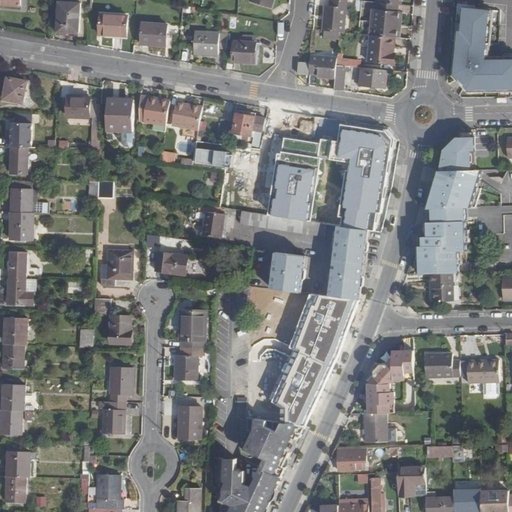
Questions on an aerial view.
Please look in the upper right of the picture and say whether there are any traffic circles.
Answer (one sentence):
Yes, a traffic circle is visible in the upper right of the picture.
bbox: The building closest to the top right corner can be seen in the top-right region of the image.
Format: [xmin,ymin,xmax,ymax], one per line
[450,2,512,103]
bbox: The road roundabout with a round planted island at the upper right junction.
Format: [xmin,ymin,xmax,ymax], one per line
[399,90,448,140]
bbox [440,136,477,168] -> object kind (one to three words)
building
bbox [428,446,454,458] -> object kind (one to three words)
shed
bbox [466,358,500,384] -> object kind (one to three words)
house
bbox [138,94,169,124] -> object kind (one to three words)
house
